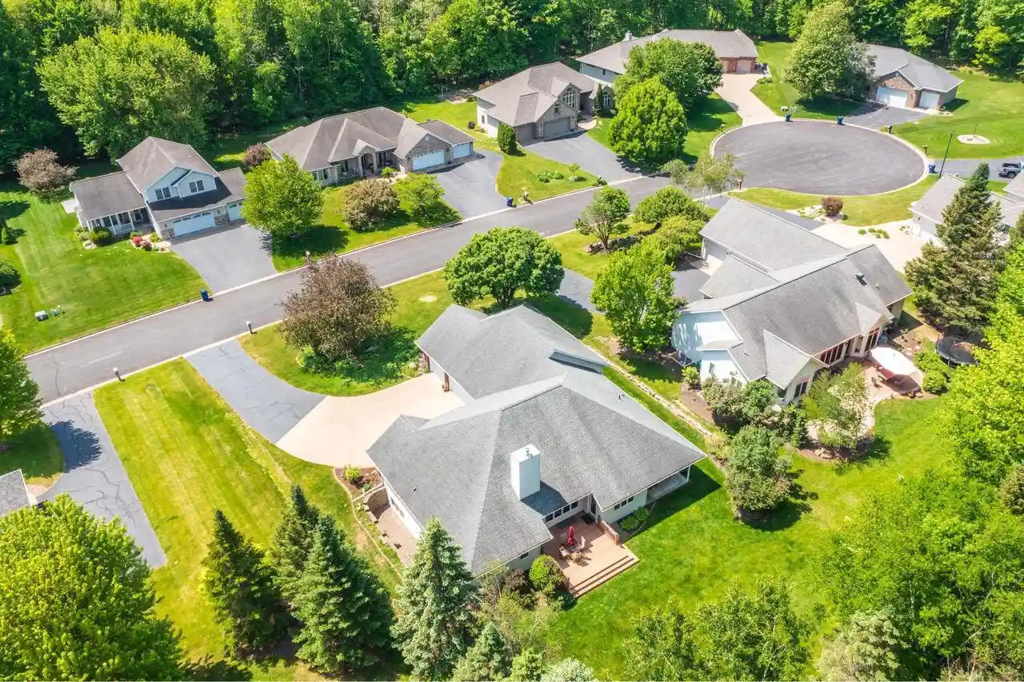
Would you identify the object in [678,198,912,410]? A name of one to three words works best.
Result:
house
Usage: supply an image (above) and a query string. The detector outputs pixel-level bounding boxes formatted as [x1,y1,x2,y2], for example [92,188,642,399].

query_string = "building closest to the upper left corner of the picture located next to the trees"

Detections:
[67,135,252,240]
